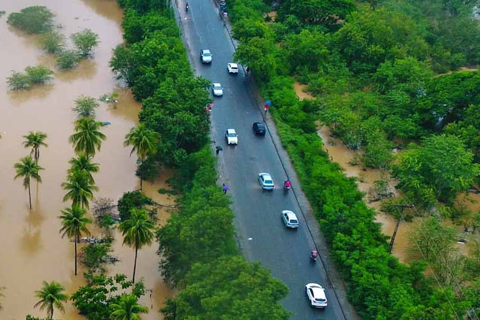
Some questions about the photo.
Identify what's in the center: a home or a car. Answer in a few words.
car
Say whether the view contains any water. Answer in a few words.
Yes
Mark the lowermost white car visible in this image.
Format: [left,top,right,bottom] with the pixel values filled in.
[305,283,331,308]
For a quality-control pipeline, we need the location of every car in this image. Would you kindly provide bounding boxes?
[200,49,213,62]
[279,210,299,229]
[210,83,224,97]
[305,283,331,308]
[251,121,266,135]
[227,63,239,74]
[257,173,274,190]
[223,125,239,145]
